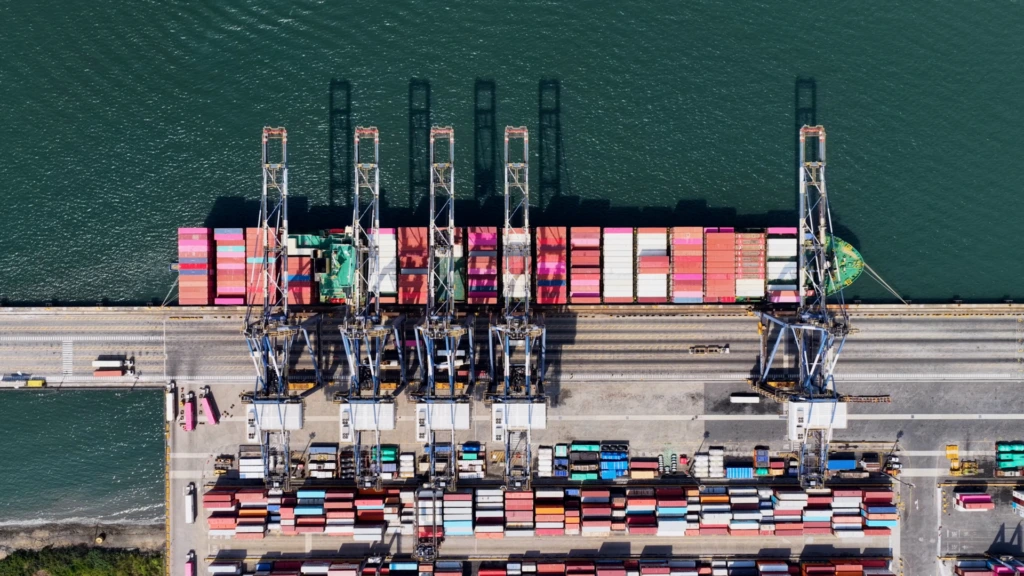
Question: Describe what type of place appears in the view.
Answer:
port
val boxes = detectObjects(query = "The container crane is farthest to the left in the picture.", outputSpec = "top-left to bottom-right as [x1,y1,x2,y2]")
[239,126,339,494]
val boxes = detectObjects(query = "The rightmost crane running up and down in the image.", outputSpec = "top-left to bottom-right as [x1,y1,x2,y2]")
[741,125,854,493]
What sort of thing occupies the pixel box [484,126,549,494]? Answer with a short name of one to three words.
container crane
